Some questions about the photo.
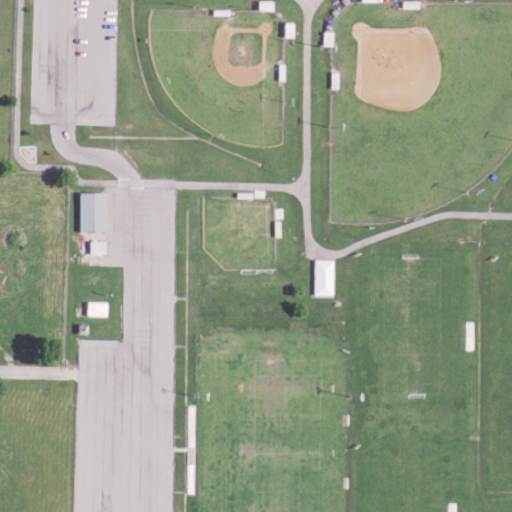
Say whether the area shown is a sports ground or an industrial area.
sports ground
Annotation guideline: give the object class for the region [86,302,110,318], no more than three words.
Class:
building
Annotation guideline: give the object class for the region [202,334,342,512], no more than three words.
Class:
sports field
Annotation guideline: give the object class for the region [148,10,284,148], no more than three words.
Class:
baseball field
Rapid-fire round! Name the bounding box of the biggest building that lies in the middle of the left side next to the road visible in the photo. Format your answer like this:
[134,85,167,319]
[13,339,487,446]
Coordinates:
[80,193,108,232]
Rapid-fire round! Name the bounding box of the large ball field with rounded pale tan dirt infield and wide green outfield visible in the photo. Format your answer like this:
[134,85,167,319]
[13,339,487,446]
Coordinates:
[332,2,512,224]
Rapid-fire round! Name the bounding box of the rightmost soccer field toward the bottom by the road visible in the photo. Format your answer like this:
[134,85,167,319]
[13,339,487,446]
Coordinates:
[380,252,444,398]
